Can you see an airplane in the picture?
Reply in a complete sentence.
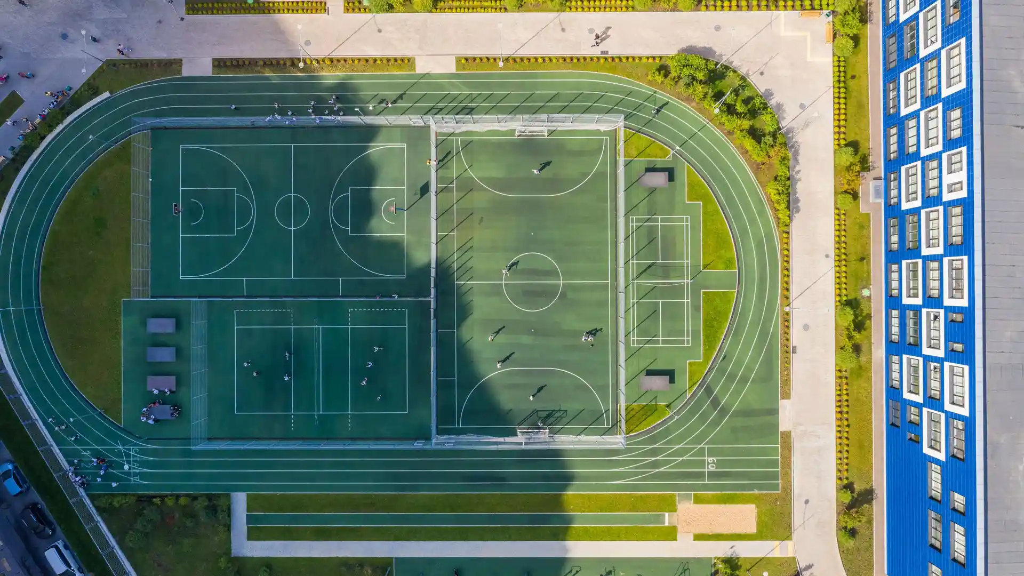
No, no airplane is visible in the scene.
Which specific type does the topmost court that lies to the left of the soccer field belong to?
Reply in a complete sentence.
From above, the topmost court that lies to the left of the soccer field can be identified as a basketball court.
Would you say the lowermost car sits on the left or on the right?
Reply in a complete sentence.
It is on the left.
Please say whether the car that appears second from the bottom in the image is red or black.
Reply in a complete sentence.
From above, the car that appears second from the bottom appears black.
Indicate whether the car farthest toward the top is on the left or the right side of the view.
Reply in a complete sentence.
The car farthest toward the top sits on the left side.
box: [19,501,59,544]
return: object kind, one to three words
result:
car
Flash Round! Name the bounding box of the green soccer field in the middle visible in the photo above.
[437,128,617,439]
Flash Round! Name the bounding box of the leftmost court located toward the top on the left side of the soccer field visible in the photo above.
[151,126,436,297]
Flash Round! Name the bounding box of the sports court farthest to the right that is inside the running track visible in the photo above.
[617,132,737,435]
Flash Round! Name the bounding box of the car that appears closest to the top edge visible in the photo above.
[0,463,34,503]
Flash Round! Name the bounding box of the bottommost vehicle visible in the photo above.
[51,541,93,576]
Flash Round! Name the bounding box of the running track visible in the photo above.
[0,72,782,493]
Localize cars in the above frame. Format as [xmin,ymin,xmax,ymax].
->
[19,501,59,544]
[0,463,34,503]
[51,541,93,576]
